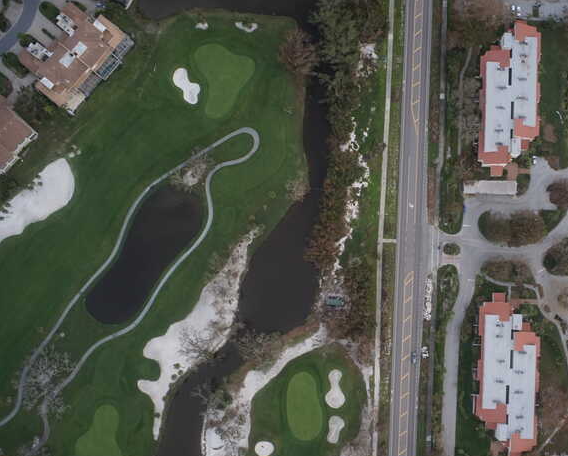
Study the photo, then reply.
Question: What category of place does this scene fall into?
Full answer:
What you see here is a golf course.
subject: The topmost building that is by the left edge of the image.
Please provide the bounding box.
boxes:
[21,2,136,112]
